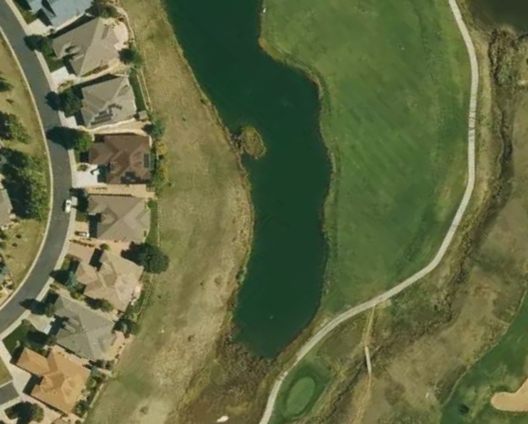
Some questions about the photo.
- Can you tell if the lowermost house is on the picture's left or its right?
left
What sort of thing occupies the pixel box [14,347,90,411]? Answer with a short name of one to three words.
house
